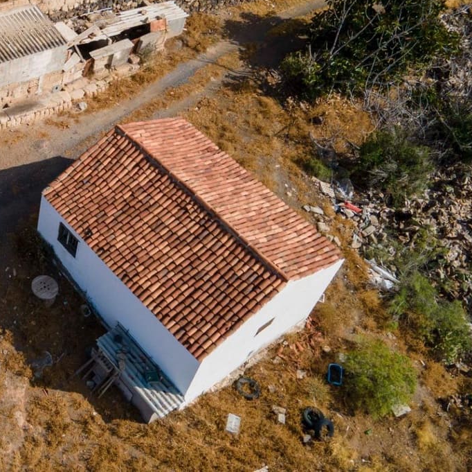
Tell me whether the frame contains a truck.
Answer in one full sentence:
No, there appears to be no truck in this shot.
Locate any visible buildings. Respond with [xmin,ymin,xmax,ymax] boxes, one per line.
[0,1,74,106]
[36,116,348,405]
[65,0,196,80]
